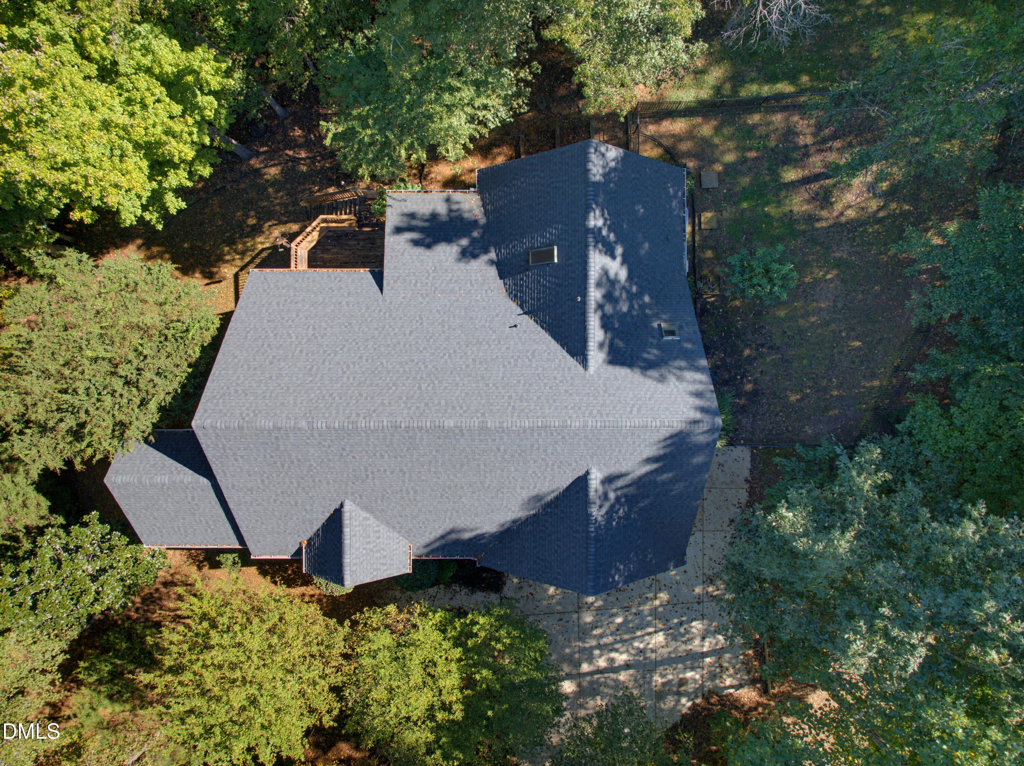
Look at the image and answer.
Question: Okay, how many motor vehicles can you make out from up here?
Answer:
0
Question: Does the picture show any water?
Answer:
No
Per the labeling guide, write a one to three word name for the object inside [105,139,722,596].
house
